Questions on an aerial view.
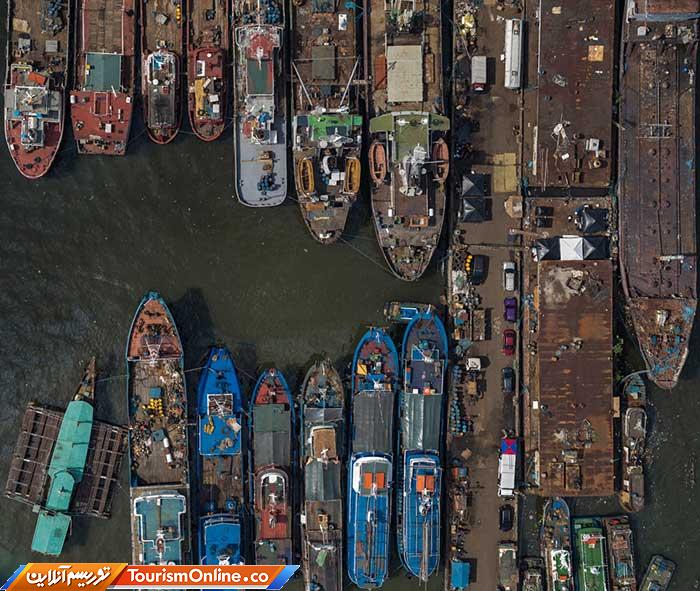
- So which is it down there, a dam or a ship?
ship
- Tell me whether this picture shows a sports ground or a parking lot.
parking lot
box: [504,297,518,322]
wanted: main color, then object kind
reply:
purple vehicle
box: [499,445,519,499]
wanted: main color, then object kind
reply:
white vehicle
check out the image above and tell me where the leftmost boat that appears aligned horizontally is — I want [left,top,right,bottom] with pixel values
[386,302,432,322]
